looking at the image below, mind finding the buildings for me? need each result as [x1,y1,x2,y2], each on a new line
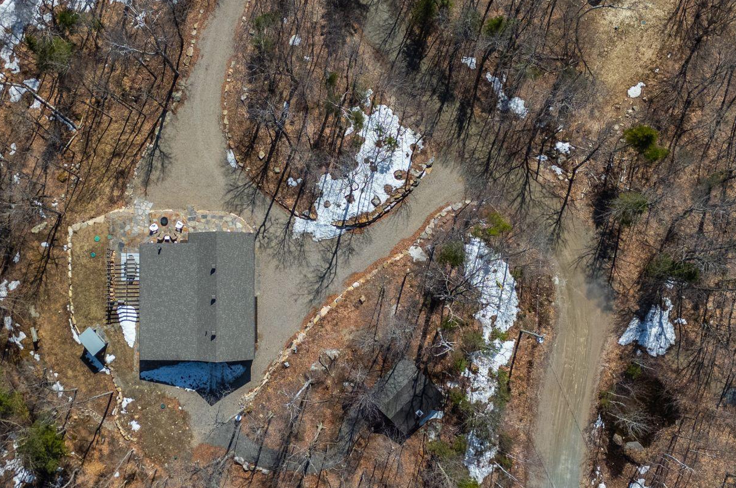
[365,359,442,434]
[139,230,256,367]
[78,327,111,355]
